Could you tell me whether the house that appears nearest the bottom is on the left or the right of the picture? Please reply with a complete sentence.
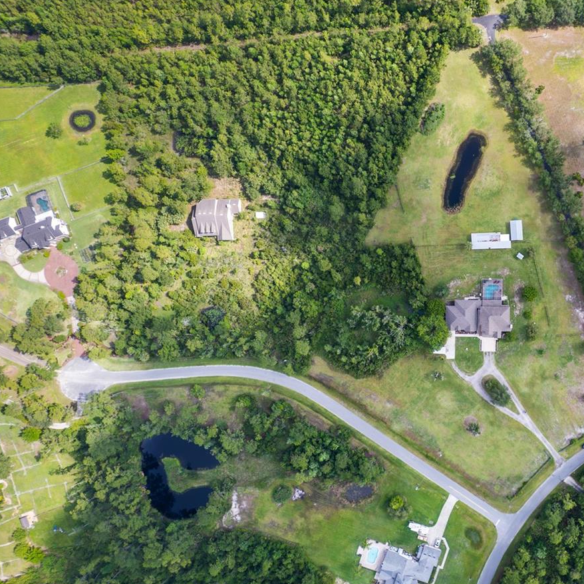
The house that appears nearest the bottom is on the right side of the image.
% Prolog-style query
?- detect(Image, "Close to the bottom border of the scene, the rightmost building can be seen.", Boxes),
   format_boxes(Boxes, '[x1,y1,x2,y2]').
[377,543,442,584]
